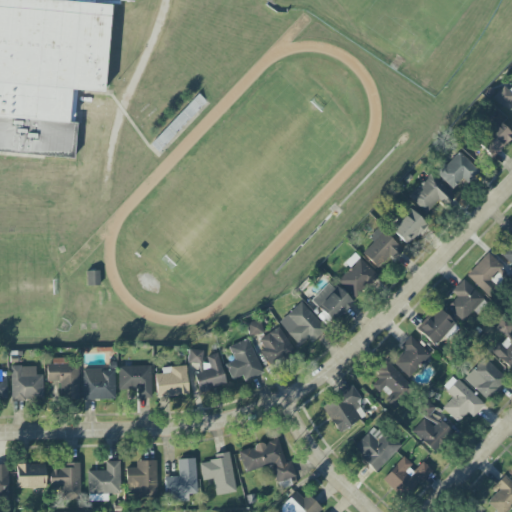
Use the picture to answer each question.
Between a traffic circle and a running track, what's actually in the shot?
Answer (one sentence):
Looking from above, you can make out a running track.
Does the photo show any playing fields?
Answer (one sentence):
Yes, there's a playing field down there.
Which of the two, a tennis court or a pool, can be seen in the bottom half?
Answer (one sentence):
It is a pool that can be seen in the bottom half.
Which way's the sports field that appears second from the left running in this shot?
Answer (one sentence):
The sports field that appears second from the left is oriented diagonally.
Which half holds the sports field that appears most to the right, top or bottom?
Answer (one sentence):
Seen from above, the sports field that appears most to the right lies in the top half of the view.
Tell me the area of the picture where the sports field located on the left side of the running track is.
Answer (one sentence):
The sports field located on the left side of the running track is located in the left region of the scene.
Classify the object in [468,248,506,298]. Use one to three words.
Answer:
house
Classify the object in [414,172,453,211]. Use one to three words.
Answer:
house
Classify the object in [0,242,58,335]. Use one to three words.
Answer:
sports field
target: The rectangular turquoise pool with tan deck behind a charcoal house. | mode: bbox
[84,346,118,369]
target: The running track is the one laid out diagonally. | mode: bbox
[104,14,382,326]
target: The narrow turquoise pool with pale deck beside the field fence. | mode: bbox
[303,274,329,300]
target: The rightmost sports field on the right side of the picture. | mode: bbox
[315,0,473,65]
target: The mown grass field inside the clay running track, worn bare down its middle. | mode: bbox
[116,52,370,315]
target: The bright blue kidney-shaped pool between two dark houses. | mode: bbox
[414,364,434,384]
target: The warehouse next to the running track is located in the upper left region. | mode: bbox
[0,0,122,158]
